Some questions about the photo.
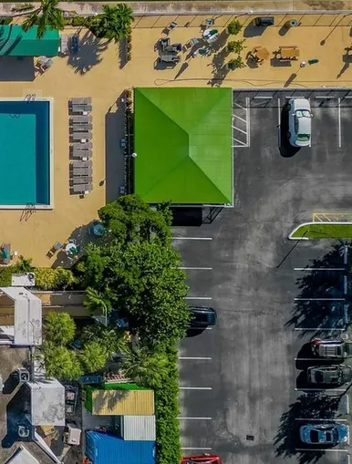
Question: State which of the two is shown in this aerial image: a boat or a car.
car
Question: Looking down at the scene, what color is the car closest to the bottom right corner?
blue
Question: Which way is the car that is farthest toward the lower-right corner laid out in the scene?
horizontally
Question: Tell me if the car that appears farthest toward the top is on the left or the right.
right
